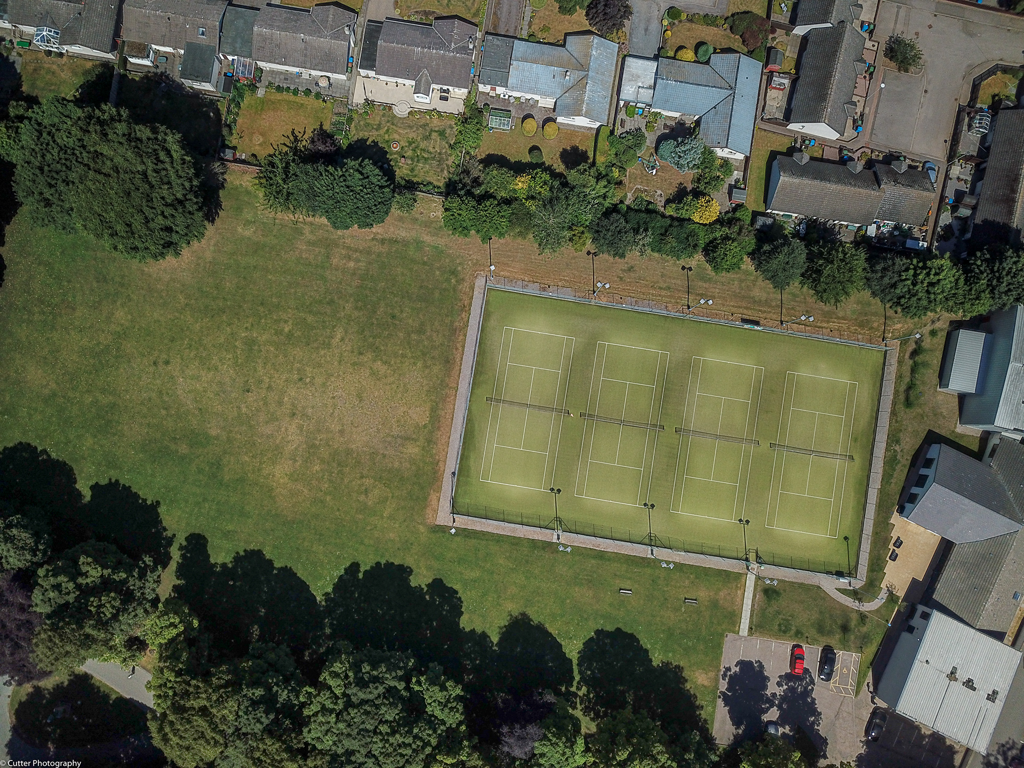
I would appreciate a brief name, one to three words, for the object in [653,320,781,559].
tennis court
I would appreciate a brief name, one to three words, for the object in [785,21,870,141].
house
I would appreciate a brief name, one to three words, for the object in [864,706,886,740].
car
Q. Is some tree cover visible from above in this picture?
Yes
